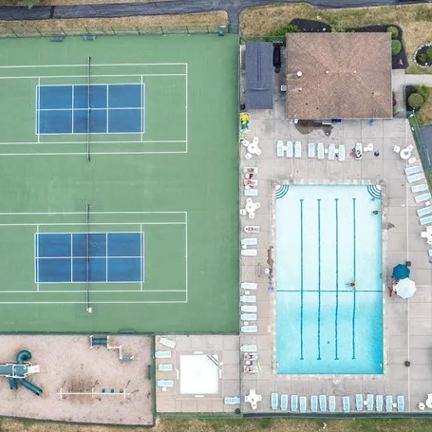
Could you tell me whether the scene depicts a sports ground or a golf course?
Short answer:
sports ground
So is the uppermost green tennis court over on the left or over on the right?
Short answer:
left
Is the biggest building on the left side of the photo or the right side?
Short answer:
right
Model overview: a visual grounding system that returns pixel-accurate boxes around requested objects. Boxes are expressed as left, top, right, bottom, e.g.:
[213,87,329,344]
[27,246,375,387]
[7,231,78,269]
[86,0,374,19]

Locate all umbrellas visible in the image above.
[391,262,410,280]
[394,277,416,298]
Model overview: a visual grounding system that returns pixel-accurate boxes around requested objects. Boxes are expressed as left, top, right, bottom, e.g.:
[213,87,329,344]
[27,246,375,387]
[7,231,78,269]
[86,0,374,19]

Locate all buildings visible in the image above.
[285,31,394,122]
[246,39,274,112]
